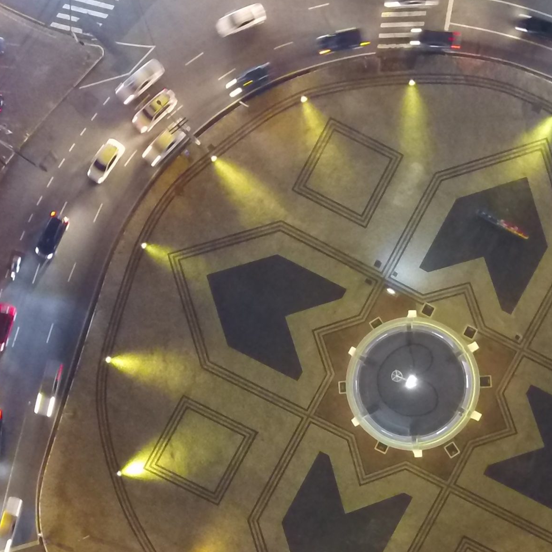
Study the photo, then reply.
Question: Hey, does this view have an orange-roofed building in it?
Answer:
No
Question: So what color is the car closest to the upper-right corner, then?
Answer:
black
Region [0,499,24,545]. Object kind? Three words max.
car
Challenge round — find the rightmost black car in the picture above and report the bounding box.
[519,15,552,45]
